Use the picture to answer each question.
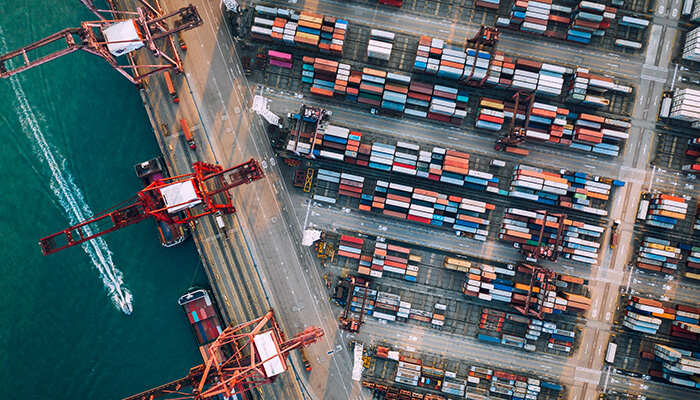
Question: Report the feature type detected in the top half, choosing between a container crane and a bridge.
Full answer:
It is a container crane that can be seen in the top half.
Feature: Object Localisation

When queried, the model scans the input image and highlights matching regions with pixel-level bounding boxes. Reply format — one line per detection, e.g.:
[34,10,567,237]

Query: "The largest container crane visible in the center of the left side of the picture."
[36,155,265,259]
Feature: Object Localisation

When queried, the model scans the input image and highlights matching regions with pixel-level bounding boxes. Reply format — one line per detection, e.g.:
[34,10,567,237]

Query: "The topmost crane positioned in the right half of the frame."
[461,28,500,87]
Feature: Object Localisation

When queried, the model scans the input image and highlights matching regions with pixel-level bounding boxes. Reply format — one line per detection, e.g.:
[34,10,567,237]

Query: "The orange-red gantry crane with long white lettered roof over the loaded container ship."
[109,306,327,400]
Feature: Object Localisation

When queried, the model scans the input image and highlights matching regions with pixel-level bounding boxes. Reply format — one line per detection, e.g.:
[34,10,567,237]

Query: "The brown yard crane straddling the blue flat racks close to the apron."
[340,274,371,331]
